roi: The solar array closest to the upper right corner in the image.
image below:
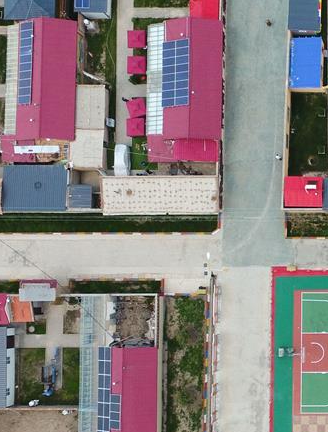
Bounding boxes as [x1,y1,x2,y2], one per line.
[163,36,187,109]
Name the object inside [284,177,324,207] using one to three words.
shed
